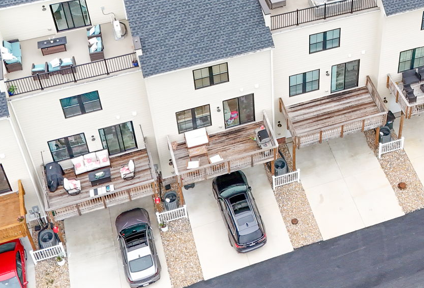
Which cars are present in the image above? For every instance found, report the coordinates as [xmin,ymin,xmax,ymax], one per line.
[114,206,159,288]
[0,241,31,288]
[215,176,268,254]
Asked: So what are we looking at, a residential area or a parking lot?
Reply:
residential area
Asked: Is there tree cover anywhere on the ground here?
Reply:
No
